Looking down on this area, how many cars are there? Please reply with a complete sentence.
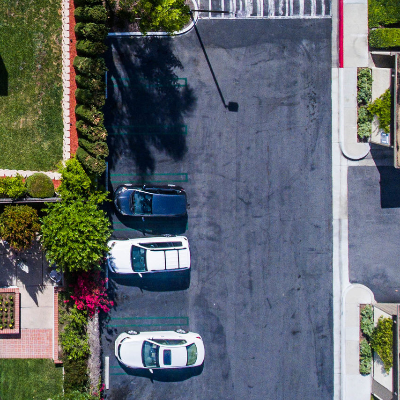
There are 3 cars in the image.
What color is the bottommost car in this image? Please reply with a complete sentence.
From above, the bottommost car appears white.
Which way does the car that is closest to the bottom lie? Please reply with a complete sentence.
In this picture, the car that is closest to the bottom lies from side to side.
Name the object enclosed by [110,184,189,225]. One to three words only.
car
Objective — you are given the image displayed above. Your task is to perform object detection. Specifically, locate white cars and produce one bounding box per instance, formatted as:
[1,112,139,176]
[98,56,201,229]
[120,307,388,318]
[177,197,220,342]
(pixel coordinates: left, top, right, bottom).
[104,235,193,280]
[112,329,205,377]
